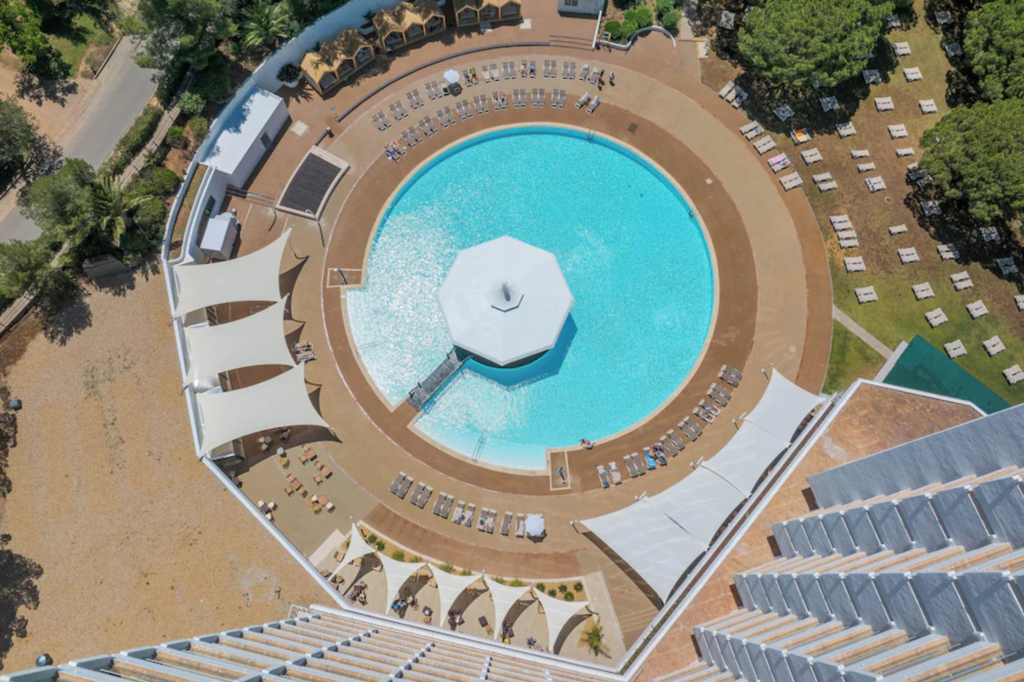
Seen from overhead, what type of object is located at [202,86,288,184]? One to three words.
shed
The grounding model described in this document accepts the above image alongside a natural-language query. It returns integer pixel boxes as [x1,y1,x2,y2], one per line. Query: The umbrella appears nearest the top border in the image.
[443,71,461,90]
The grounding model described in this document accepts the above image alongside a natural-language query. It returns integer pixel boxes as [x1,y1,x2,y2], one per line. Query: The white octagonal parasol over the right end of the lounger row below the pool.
[524,514,546,537]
